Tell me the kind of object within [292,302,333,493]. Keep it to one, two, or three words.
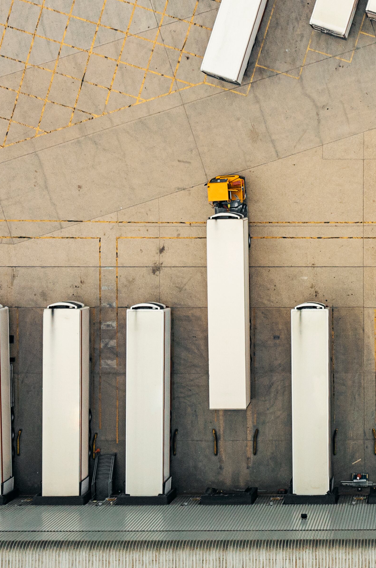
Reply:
trailer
